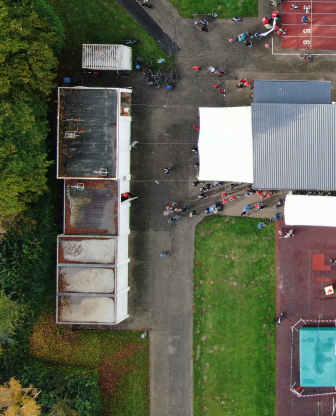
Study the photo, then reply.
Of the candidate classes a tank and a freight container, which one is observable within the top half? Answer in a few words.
freight container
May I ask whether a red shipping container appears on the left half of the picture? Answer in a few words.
No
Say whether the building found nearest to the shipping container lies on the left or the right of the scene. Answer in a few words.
left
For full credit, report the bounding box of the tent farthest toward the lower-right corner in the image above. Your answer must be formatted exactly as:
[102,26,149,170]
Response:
[283,194,336,226]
